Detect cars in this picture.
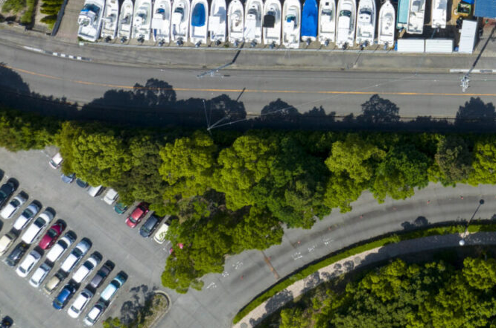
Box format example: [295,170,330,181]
[17,247,45,277]
[0,233,18,258]
[0,180,20,212]
[68,286,97,317]
[0,223,7,237]
[47,148,61,171]
[21,211,56,245]
[113,203,128,215]
[102,180,124,206]
[12,201,44,232]
[53,280,79,309]
[47,230,78,262]
[28,259,56,289]
[126,204,149,228]
[86,173,114,202]
[6,241,34,269]
[61,239,93,272]
[44,270,68,295]
[152,218,178,244]
[102,273,130,305]
[38,220,68,251]
[1,191,31,221]
[73,252,104,284]
[83,297,109,325]
[88,261,117,291]
[137,216,164,237]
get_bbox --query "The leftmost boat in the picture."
[75,0,107,41]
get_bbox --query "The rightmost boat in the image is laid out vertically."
[432,0,447,33]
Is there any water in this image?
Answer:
No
